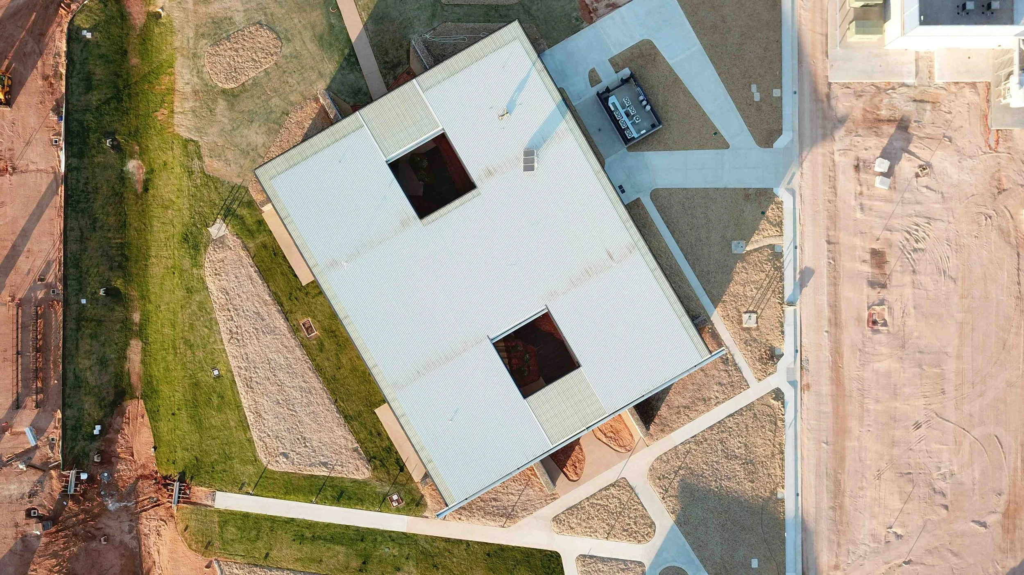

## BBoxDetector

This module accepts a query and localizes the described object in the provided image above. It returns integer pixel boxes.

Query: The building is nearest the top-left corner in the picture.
[254,17,729,516]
